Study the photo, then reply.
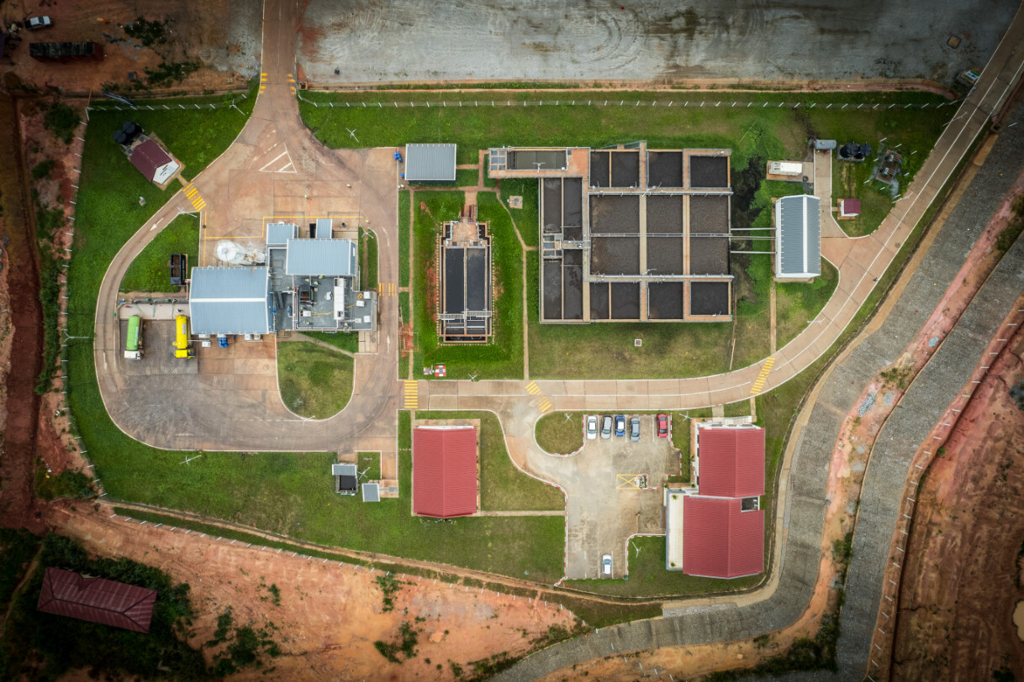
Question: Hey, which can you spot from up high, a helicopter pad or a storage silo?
storage silo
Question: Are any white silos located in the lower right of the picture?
No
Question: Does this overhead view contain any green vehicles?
Yes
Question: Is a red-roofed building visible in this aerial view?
Yes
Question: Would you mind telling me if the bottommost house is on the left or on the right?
left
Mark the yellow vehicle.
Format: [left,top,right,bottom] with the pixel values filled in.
[178,317,197,361]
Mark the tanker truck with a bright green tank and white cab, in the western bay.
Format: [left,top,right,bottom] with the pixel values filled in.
[123,316,148,362]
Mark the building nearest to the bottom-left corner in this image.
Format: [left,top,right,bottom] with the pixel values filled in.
[37,567,158,633]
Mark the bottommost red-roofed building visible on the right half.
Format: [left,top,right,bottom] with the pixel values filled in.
[662,486,764,581]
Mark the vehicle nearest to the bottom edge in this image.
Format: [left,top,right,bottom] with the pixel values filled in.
[601,552,613,576]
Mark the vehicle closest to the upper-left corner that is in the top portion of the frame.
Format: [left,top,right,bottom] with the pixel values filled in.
[24,15,55,31]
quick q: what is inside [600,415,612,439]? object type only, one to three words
vehicle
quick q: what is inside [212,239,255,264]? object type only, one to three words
silo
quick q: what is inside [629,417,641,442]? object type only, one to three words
vehicle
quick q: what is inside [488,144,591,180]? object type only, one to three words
building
